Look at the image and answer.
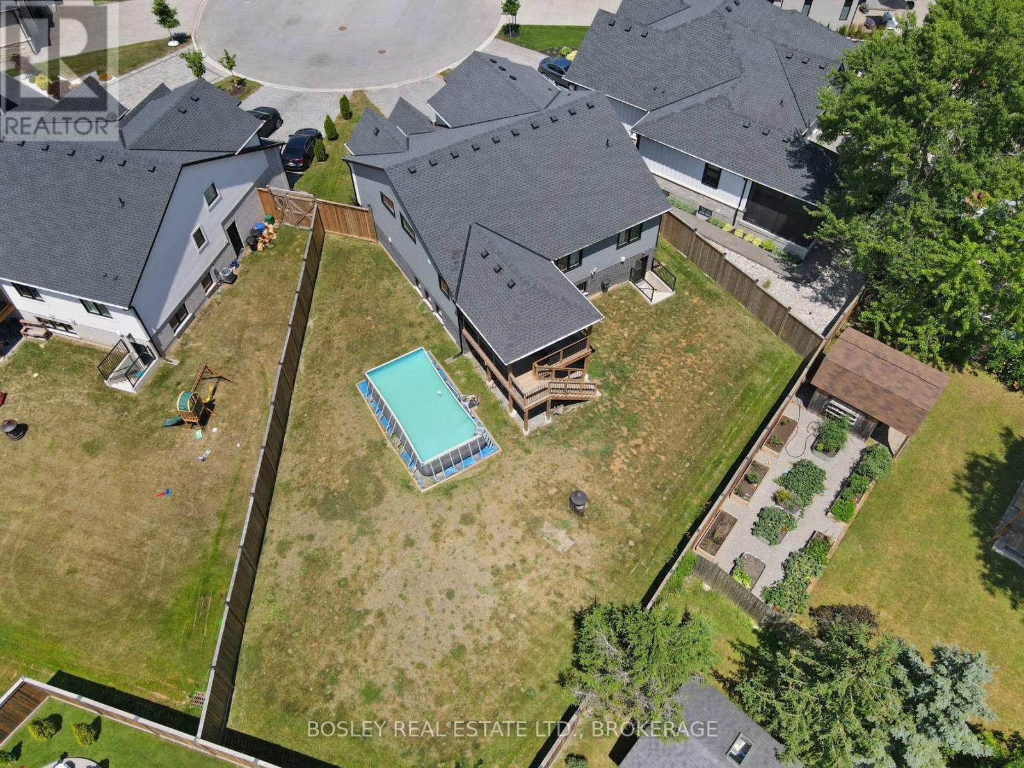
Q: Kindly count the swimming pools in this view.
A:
1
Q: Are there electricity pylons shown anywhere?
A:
No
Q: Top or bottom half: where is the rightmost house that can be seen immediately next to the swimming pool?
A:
top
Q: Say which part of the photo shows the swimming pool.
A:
center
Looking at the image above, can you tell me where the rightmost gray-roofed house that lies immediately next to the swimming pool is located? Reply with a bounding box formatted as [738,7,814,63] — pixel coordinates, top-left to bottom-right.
[341,50,677,373]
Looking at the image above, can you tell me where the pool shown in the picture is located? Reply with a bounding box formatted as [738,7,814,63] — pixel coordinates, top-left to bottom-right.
[363,345,488,480]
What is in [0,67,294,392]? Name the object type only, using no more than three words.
house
